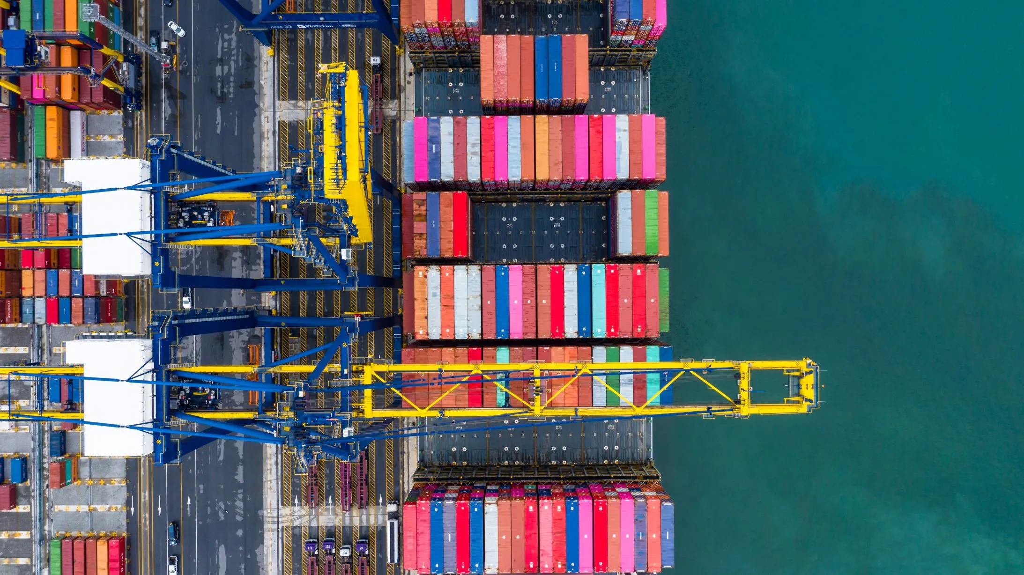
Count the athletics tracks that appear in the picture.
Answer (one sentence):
The photo contains no athletics tracks.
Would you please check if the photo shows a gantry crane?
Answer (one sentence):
Yes, the frame does contain a gantry crane.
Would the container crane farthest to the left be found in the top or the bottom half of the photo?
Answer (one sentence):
The top half of the photo is where the container crane farthest to the left is.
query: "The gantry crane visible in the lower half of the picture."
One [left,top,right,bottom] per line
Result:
[0,291,826,493]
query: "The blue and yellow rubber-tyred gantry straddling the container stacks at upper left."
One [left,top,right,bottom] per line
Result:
[0,28,133,106]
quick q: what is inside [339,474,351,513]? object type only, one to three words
vehicle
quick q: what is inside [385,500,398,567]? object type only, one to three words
vehicle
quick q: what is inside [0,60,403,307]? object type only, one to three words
container crane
